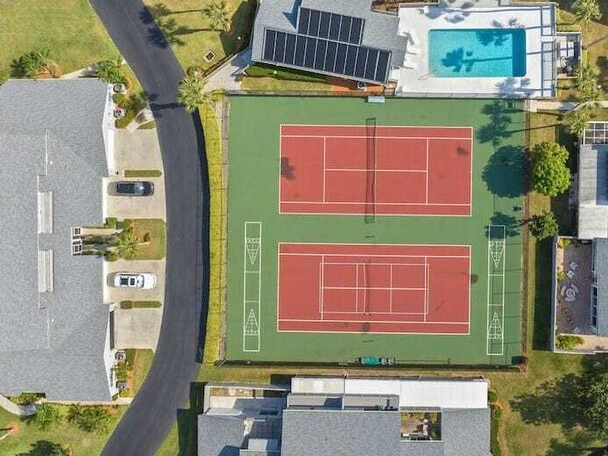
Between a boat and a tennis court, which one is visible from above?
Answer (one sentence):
The one in the frame is a tennis court.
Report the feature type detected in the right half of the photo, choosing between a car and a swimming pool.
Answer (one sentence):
Visible in the right half of the photo is a swimming pool.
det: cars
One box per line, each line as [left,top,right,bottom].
[111,179,151,198]
[113,272,155,291]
